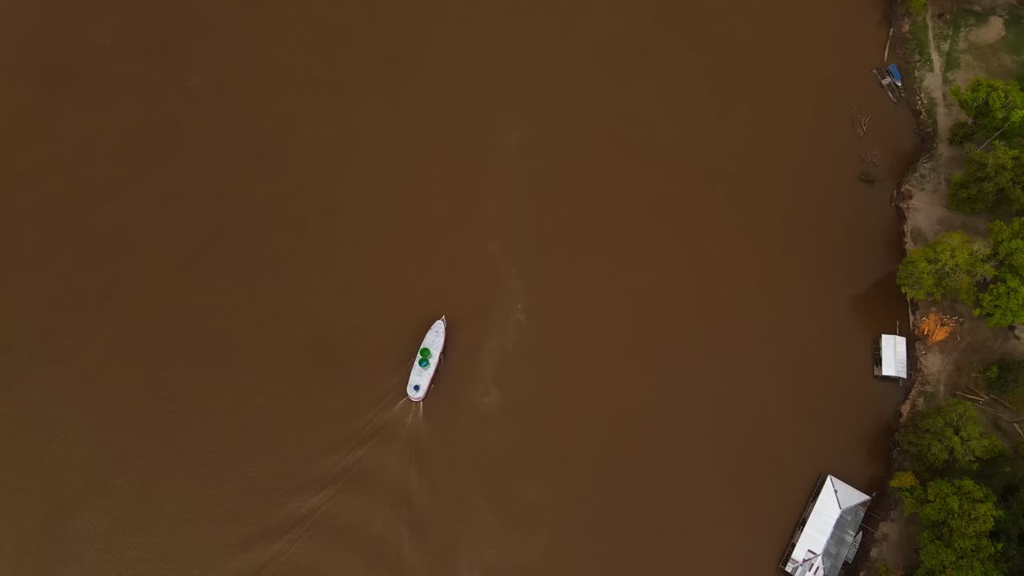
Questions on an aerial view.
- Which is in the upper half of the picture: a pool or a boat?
boat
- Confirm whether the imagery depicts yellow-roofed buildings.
No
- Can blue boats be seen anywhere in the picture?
Yes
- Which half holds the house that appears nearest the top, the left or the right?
right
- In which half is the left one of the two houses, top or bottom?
bottom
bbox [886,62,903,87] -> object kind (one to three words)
boat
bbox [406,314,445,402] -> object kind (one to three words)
boat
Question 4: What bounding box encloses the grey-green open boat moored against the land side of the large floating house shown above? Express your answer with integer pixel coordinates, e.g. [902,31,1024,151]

[844,530,863,563]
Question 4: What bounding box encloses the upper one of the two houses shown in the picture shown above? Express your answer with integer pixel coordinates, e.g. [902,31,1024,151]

[871,322,906,387]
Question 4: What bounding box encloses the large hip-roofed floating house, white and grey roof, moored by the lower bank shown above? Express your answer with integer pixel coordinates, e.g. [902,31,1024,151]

[778,471,871,576]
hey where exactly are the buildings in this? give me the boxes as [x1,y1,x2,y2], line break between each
[871,322,906,387]
[778,471,871,576]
